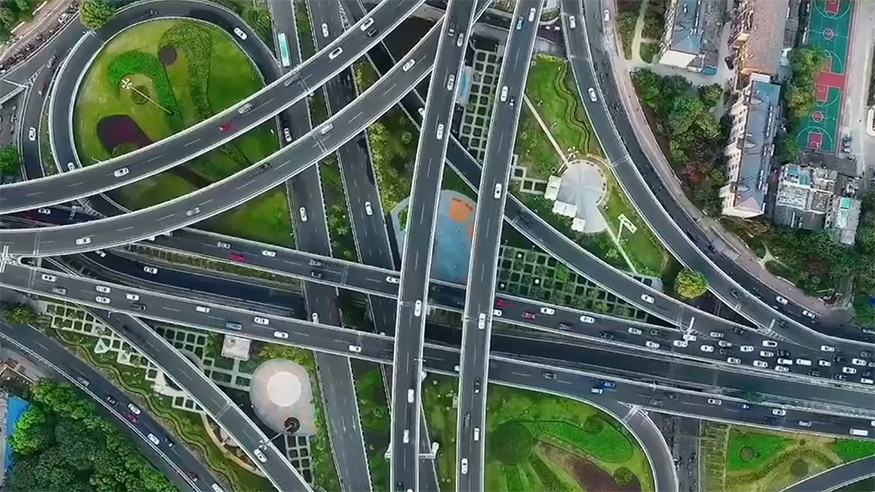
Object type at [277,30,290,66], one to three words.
vehicle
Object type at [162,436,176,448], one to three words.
vehicle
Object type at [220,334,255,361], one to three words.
building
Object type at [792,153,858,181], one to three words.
building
